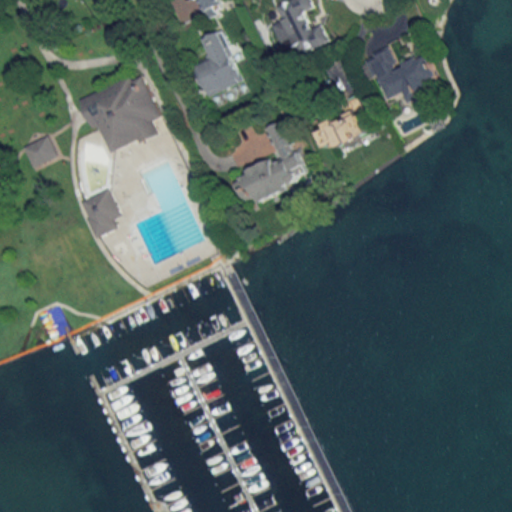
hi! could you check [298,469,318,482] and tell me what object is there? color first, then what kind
white boat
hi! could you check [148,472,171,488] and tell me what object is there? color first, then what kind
white boat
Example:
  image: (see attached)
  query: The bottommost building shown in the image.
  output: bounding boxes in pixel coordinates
[82,189,120,236]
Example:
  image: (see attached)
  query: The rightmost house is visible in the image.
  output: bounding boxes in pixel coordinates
[370,45,434,100]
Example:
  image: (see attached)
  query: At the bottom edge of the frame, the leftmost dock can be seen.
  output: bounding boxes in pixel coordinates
[90,376,183,512]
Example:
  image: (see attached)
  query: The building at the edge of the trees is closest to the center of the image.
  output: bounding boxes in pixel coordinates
[234,150,307,204]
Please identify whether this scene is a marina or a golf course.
marina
